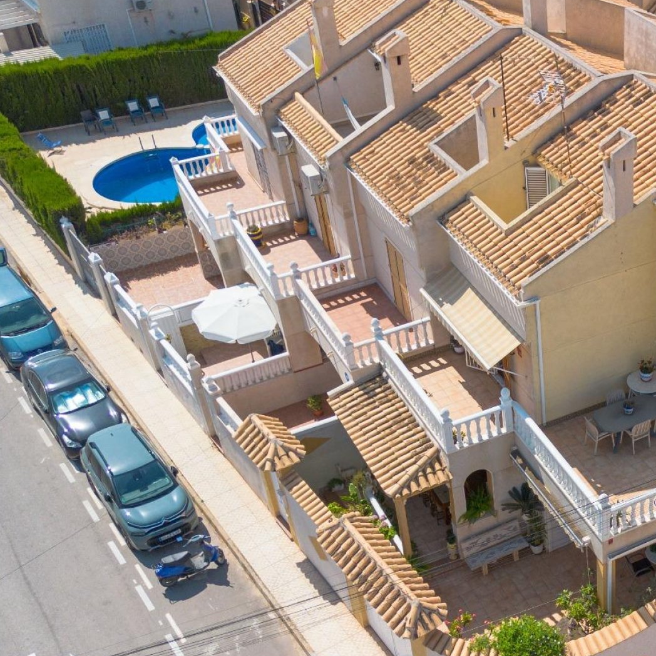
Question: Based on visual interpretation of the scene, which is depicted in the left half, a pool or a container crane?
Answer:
pool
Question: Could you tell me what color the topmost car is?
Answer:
blue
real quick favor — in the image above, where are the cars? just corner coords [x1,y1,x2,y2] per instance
[0,273,76,386]
[83,426,208,561]
[25,351,133,464]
